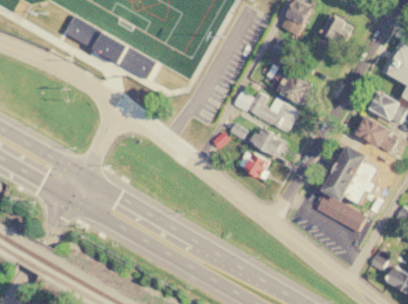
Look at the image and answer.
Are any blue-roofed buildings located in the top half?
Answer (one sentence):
No, in the top half there is no blue-roofed building.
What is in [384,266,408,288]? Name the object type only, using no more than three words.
house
